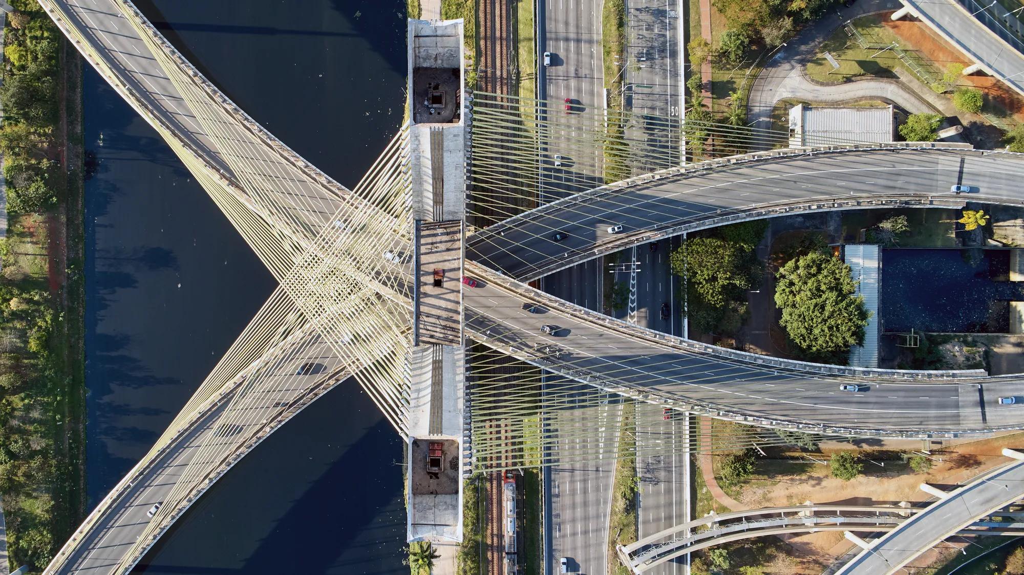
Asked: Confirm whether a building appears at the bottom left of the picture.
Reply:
No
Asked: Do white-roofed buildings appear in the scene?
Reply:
Yes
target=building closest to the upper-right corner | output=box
[789,102,896,147]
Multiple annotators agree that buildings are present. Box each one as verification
[837,244,882,368]
[789,102,896,147]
